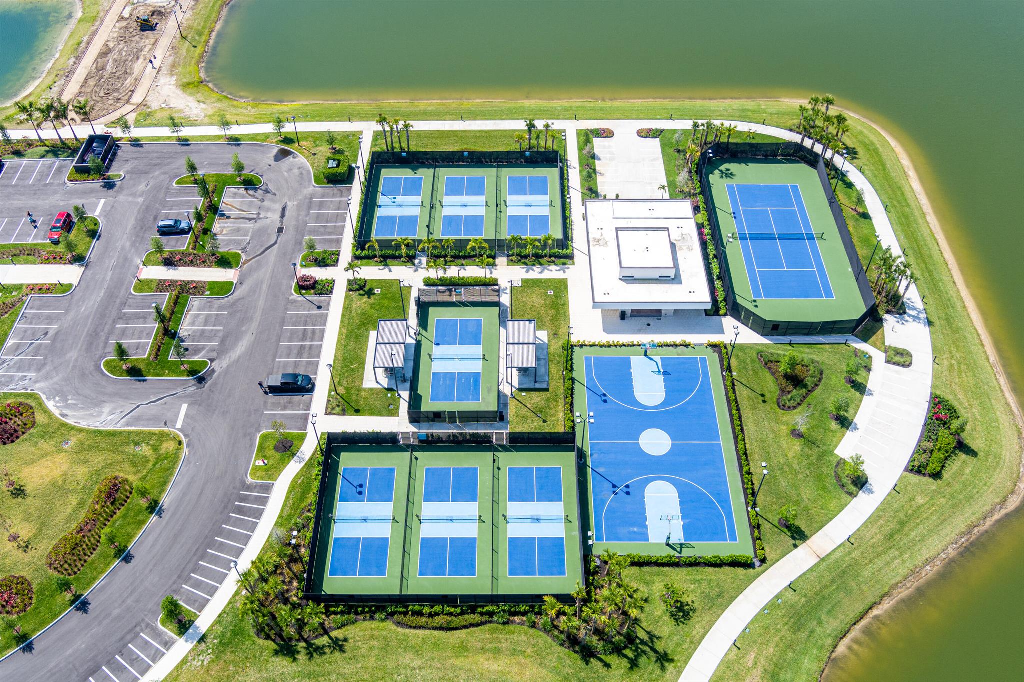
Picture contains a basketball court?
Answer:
Yes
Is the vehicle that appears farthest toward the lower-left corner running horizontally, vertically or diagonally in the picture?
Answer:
horizontally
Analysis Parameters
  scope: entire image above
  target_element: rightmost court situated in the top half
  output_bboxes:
[703,157,866,335]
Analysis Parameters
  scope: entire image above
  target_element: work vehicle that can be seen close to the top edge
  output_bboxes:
[136,18,162,34]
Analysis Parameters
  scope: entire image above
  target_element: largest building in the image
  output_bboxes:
[584,199,712,316]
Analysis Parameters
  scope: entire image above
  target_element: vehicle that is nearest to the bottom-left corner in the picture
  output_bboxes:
[264,374,315,394]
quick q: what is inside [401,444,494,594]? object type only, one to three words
sports court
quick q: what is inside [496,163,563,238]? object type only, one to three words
sports court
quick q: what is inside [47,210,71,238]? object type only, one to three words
car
